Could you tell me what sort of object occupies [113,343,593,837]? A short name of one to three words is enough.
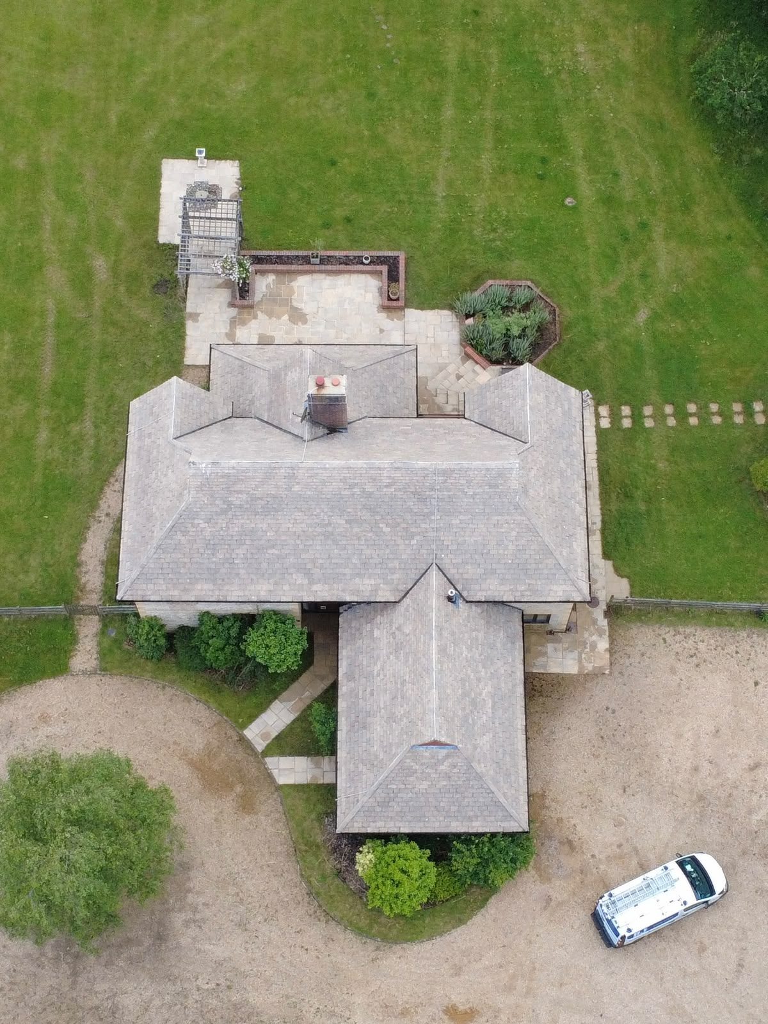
house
